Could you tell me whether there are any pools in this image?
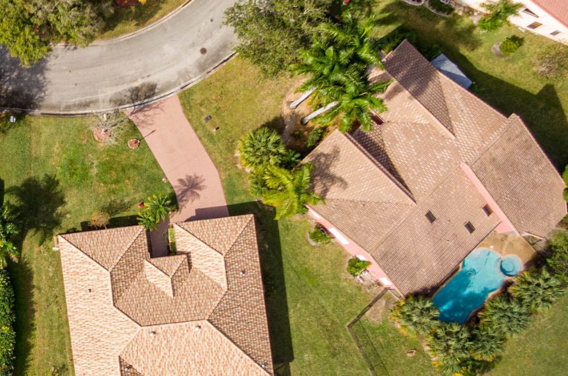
Yes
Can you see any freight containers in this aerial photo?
No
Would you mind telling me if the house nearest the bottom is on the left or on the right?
left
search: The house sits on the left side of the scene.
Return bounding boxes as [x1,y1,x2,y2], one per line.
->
[57,214,274,376]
